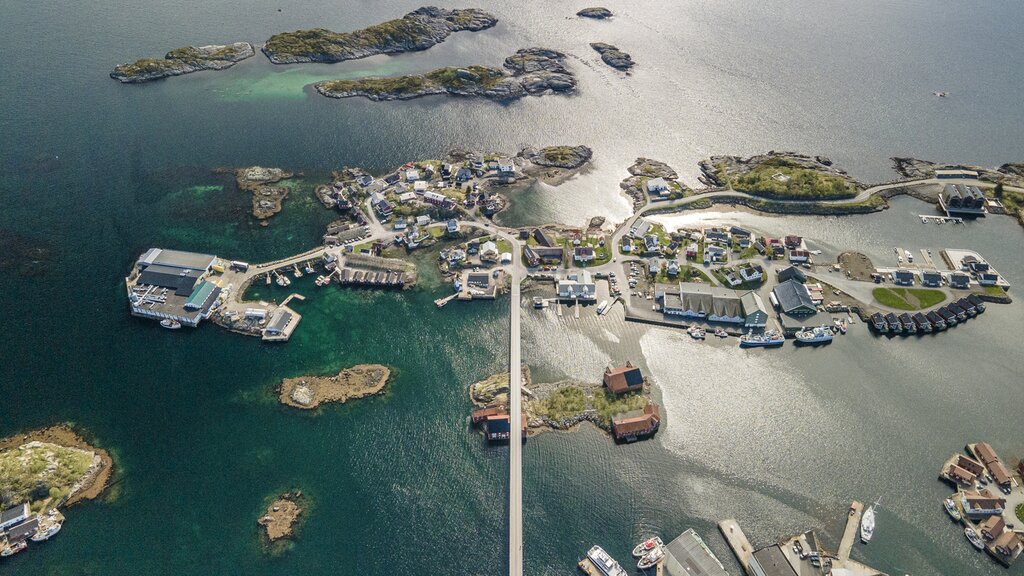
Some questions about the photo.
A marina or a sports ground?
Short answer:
marina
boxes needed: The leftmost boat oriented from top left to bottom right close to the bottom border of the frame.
[593,541,636,576]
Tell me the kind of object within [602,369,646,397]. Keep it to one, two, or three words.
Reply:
building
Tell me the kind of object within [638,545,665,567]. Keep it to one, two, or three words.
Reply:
boat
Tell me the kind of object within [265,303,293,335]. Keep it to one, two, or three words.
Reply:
shed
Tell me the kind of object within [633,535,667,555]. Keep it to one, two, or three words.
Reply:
boat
